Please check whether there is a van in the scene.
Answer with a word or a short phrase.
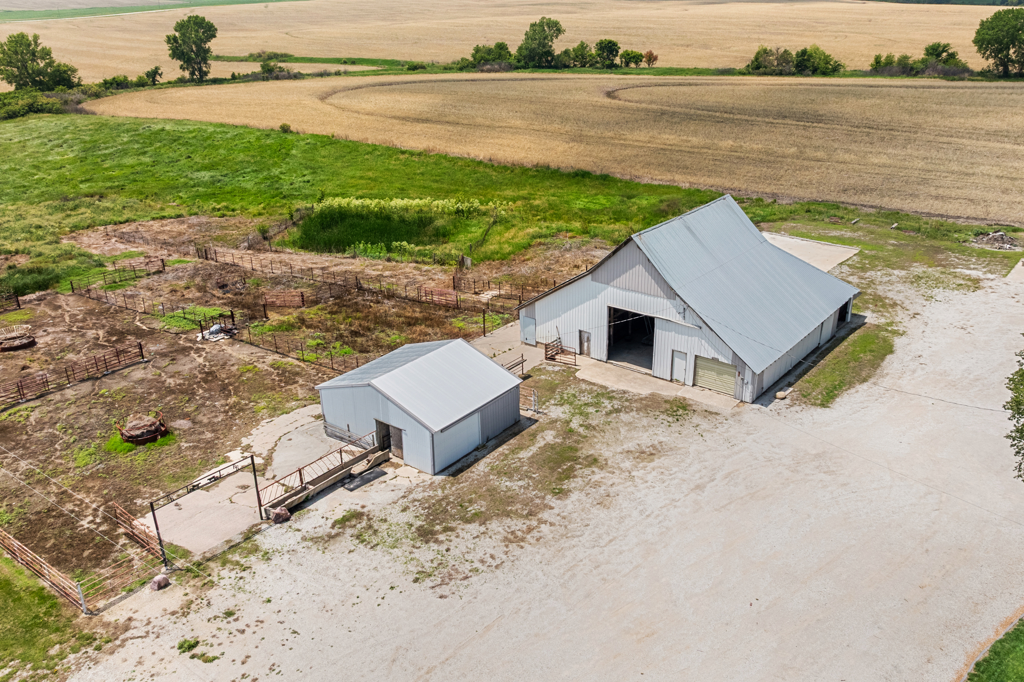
No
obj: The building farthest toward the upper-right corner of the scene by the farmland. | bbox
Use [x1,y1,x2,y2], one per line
[515,193,859,404]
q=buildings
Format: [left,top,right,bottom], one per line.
[314,337,524,476]
[515,193,859,404]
